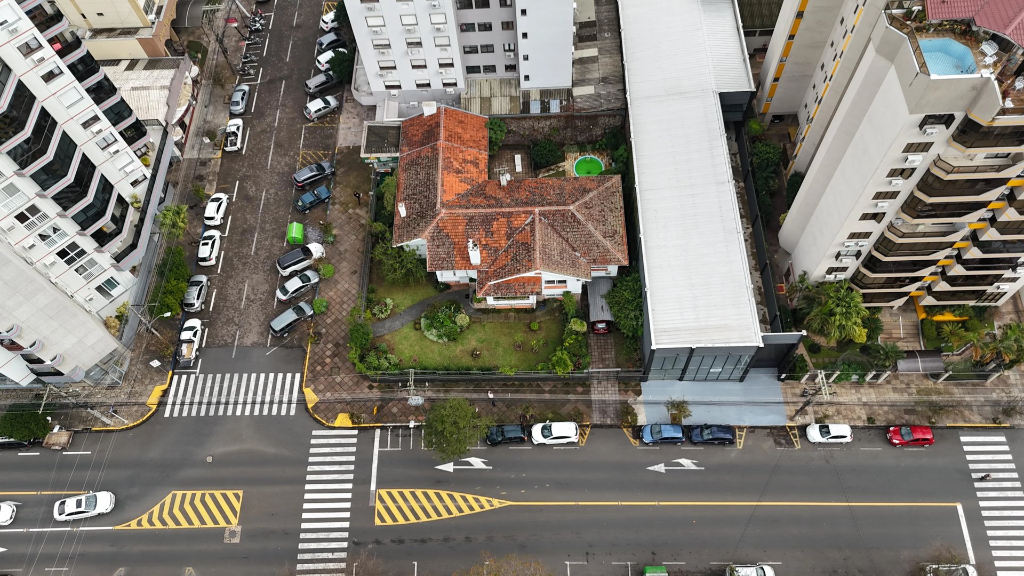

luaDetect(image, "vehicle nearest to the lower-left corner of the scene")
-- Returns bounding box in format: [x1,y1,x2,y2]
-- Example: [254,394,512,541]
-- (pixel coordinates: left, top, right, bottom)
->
[0,503,20,527]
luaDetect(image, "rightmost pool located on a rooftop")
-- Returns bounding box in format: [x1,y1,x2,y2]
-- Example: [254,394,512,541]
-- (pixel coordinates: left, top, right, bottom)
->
[918,37,979,74]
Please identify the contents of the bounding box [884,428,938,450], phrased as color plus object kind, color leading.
red car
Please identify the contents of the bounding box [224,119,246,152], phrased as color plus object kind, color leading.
white truck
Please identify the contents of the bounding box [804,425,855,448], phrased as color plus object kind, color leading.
white car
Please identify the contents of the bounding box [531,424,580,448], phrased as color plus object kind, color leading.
white car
